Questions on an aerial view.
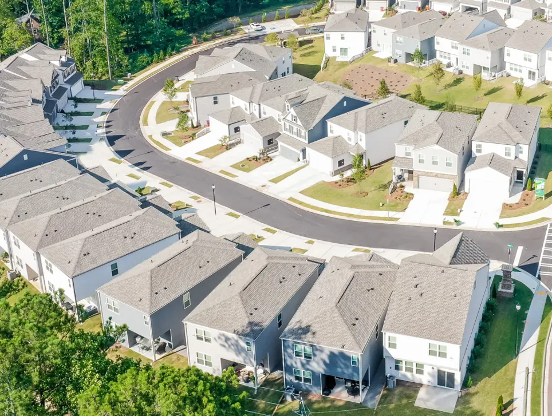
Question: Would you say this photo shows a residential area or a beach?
residential area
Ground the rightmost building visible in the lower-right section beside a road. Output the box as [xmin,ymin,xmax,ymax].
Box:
[381,241,491,405]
